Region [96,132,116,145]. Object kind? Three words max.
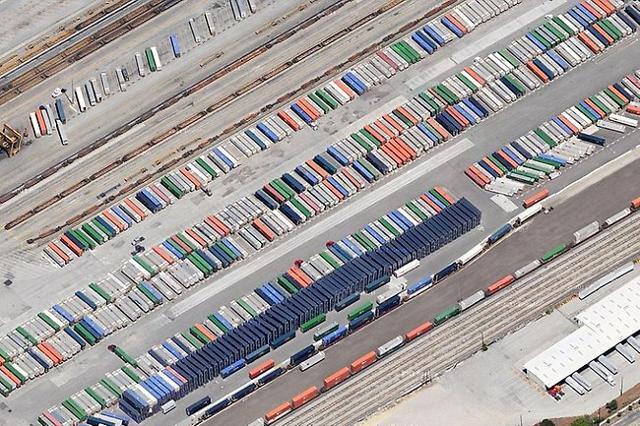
rail car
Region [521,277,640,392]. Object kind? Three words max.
warehouse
